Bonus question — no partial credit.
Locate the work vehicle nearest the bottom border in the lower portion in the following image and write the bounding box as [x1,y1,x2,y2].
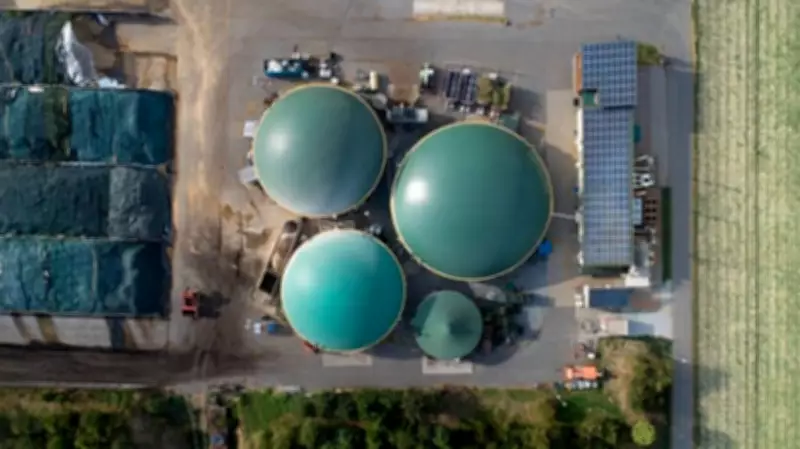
[561,363,603,380]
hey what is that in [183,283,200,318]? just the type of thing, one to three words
work vehicle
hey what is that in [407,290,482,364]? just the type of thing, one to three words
storage tank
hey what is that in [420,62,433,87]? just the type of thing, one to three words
vehicle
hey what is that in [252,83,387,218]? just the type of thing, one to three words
storage tank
